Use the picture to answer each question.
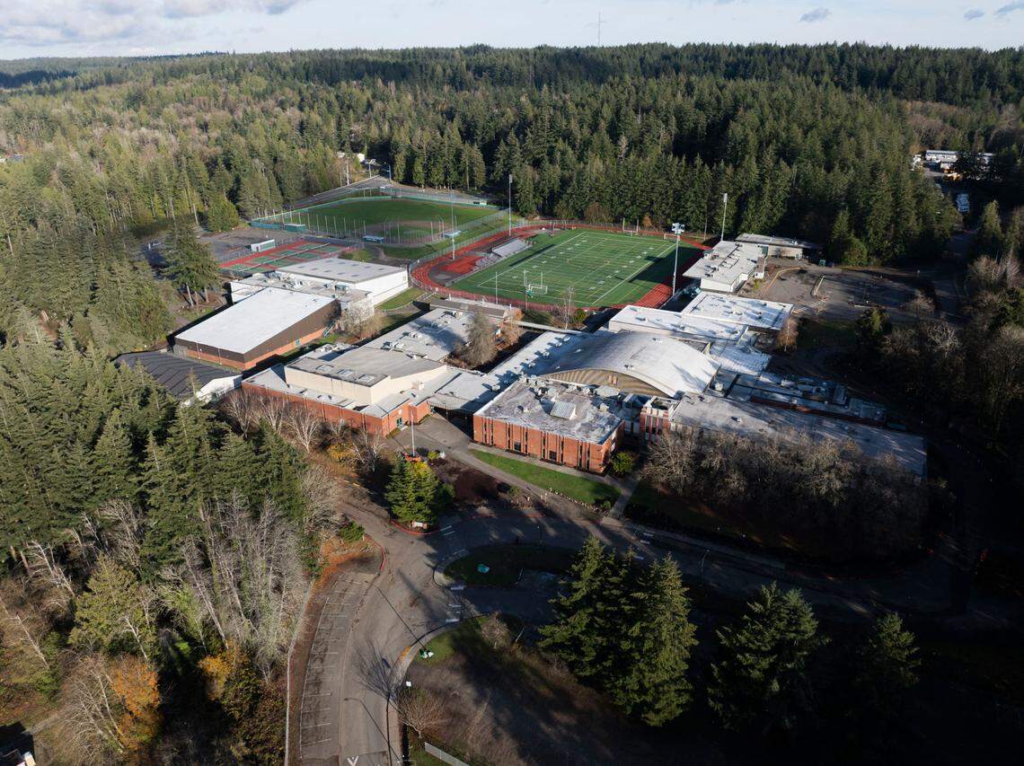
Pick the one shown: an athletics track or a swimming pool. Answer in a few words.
athletics track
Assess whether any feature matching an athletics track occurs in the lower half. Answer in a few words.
No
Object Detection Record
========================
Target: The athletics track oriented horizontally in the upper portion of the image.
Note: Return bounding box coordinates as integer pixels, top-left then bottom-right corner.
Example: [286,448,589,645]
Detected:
[405,224,704,313]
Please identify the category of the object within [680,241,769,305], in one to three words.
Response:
building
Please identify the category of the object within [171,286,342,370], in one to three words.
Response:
building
